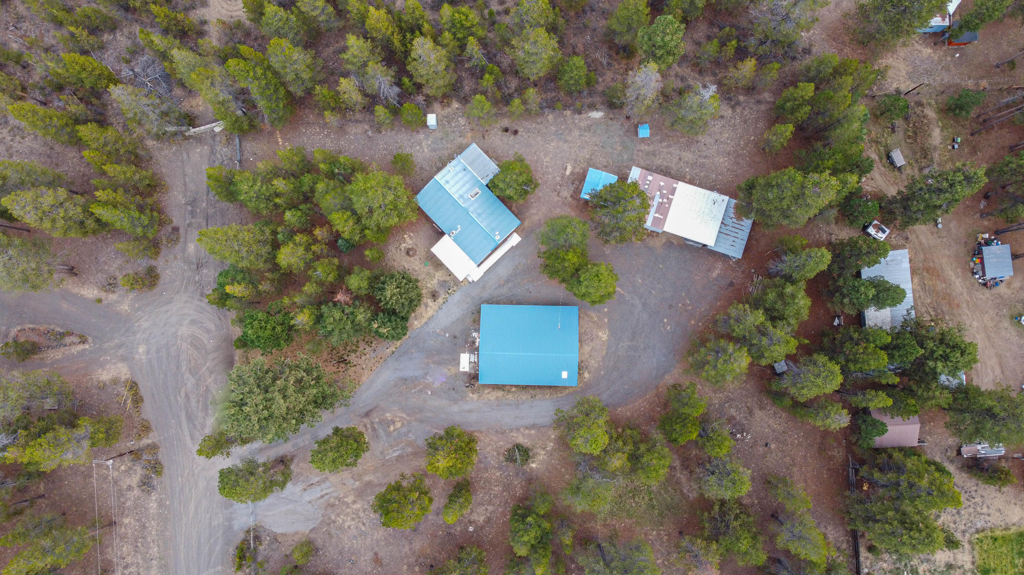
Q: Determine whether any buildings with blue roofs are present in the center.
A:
Yes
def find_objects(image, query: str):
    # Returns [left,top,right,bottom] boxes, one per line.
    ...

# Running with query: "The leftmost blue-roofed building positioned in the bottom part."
[475,304,579,387]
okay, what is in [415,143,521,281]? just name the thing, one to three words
house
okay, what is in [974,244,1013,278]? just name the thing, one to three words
shed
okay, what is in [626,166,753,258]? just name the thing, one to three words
shed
